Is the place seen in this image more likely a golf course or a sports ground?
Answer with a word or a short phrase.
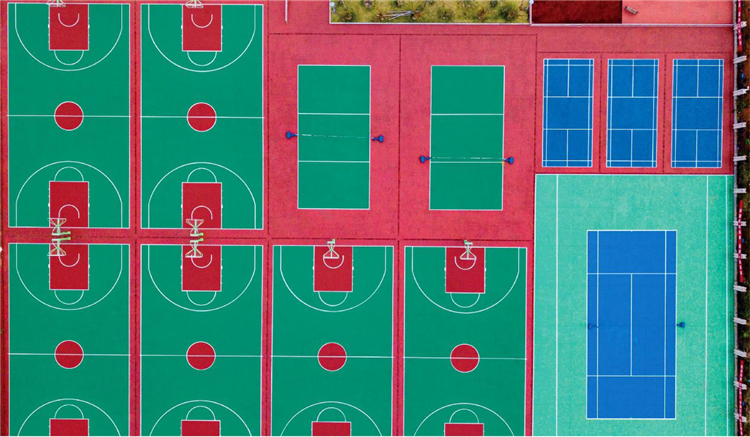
sports ground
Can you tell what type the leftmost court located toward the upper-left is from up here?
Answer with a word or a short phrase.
basketball court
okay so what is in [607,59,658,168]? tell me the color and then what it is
blue sports court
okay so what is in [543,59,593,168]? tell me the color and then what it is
blue sports court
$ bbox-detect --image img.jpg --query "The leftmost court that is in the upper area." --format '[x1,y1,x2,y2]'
[7,3,130,228]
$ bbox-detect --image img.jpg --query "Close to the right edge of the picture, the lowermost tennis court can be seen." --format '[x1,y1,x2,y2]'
[533,173,734,437]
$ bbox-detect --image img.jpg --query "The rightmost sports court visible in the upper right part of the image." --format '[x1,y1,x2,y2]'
[672,59,724,168]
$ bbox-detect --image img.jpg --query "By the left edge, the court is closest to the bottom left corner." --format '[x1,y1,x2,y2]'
[7,242,130,437]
